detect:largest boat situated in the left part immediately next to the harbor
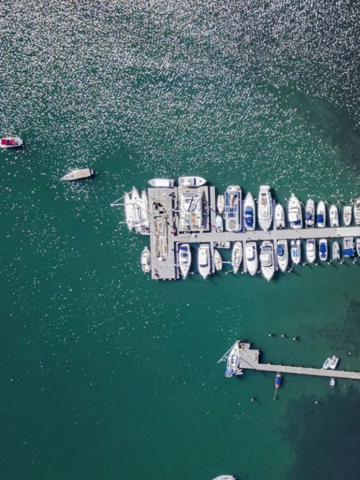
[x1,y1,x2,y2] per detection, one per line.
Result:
[110,187,147,231]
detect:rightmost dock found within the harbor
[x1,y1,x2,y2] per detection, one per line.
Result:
[177,187,209,231]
